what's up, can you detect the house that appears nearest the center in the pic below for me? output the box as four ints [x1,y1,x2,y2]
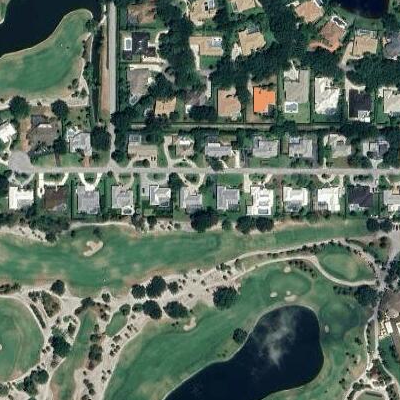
[179,187,204,210]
